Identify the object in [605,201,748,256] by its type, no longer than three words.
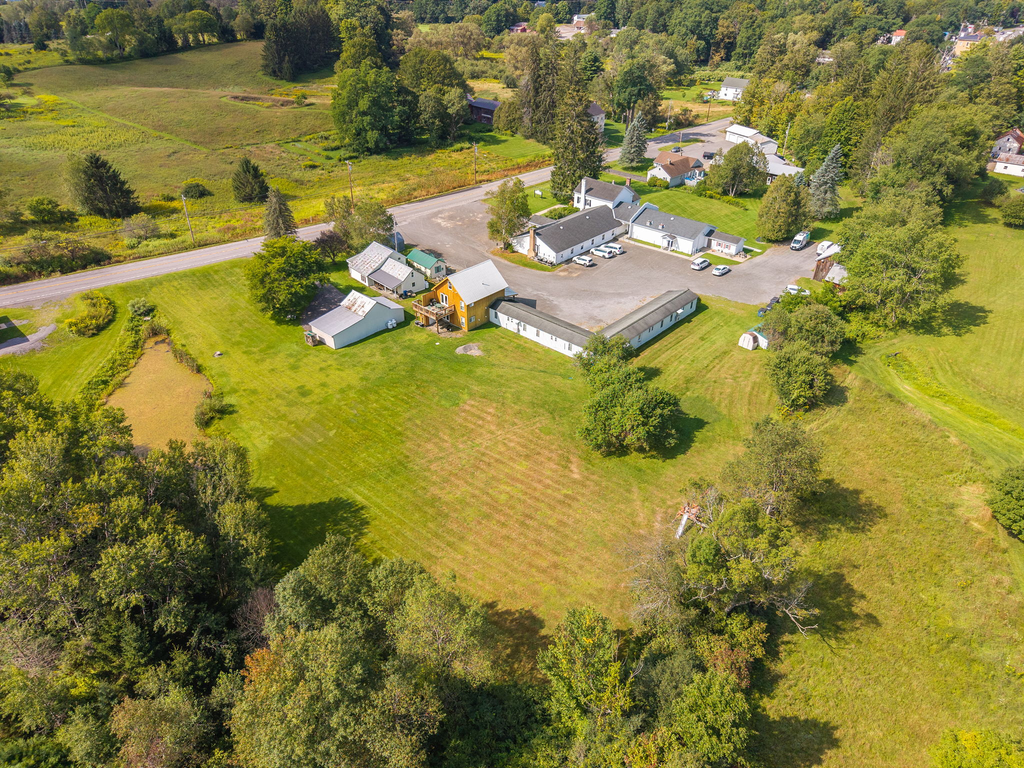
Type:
building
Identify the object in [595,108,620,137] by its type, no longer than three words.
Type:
house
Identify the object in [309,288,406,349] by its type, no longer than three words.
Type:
building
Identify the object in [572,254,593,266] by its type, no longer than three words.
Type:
vehicle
